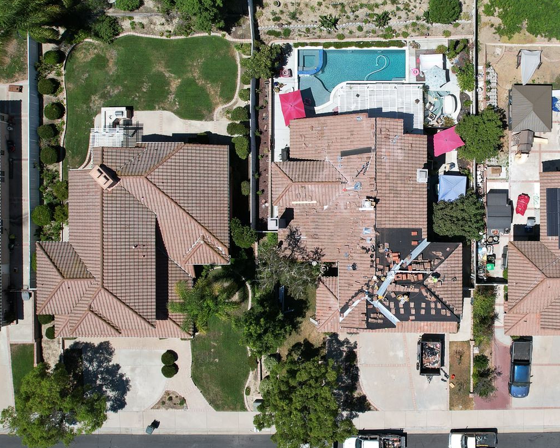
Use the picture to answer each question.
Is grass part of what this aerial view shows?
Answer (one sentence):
Yes, some grass is visible.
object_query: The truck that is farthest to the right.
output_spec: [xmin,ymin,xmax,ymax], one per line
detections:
[509,338,537,401]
